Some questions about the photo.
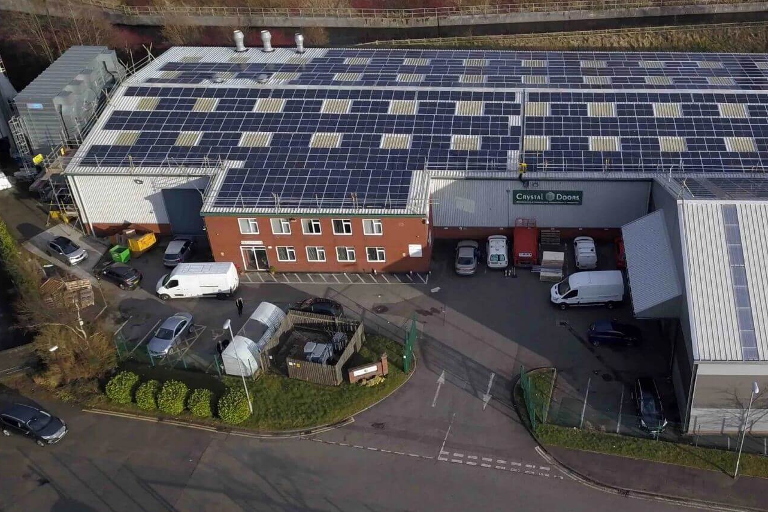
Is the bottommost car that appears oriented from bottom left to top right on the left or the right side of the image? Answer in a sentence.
It is on the left.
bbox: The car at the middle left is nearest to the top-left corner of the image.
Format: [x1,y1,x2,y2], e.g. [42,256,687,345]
[39,232,91,264]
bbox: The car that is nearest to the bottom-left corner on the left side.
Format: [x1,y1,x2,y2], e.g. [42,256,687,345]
[0,399,67,446]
